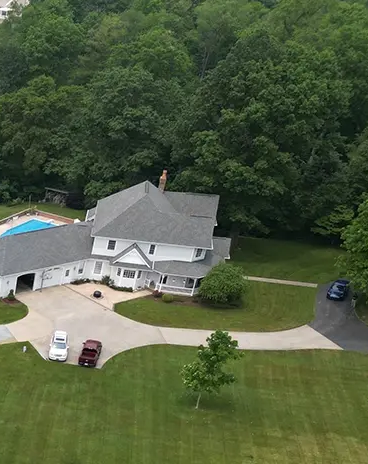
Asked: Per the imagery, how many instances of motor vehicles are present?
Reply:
three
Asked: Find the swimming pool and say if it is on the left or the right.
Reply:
left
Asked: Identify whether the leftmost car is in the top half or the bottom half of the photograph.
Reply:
bottom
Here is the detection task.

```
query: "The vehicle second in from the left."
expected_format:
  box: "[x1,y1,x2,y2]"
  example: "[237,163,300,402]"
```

[73,334,98,362]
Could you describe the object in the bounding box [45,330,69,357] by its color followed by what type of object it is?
white car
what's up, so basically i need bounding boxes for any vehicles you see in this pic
[45,330,69,357]
[323,280,346,300]
[73,334,98,362]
